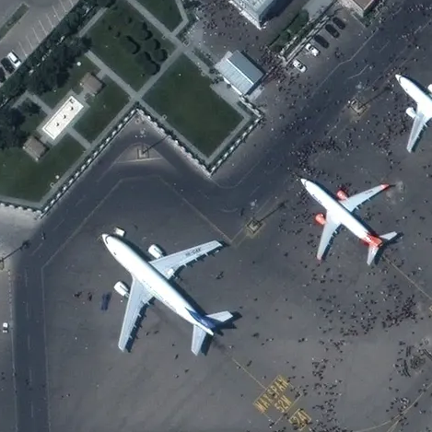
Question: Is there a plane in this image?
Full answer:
Yes, the frame does contain a plane.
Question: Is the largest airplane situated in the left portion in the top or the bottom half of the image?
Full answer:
It is in the bottom half that the largest airplane situated in the left portion appears.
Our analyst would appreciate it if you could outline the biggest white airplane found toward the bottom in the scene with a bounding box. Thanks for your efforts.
[103,233,234,353]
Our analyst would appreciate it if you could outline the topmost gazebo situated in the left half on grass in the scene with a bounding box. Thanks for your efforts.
[82,71,103,96]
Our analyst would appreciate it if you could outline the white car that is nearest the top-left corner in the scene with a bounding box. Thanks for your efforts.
[6,52,22,68]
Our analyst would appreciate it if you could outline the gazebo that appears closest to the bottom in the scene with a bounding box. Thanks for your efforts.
[24,136,45,162]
